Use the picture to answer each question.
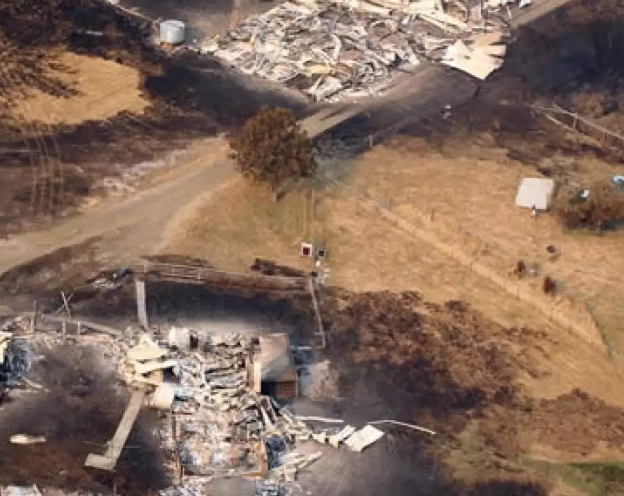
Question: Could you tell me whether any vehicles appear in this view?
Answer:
No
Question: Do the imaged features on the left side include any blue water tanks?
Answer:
No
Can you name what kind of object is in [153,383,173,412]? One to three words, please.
water tank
